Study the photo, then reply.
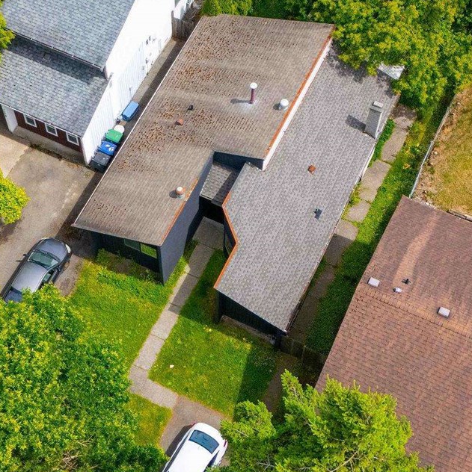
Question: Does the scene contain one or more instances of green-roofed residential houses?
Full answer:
No, no green-roofed residential house is visible in the scene.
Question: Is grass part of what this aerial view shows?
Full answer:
Yes, grass can be seen from above here.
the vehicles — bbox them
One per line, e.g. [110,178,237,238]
[169,418,234,472]
[0,238,65,319]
